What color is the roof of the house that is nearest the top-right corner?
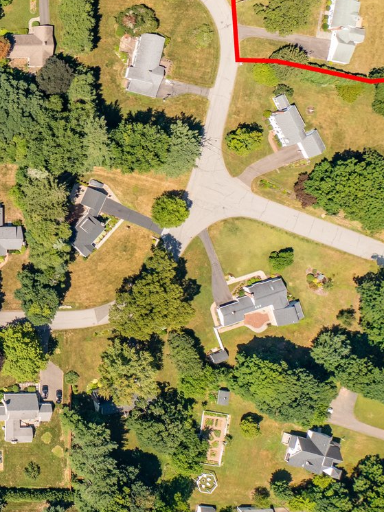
white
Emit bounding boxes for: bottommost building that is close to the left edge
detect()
[0,391,55,444]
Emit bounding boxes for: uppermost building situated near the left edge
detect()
[7,23,55,67]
